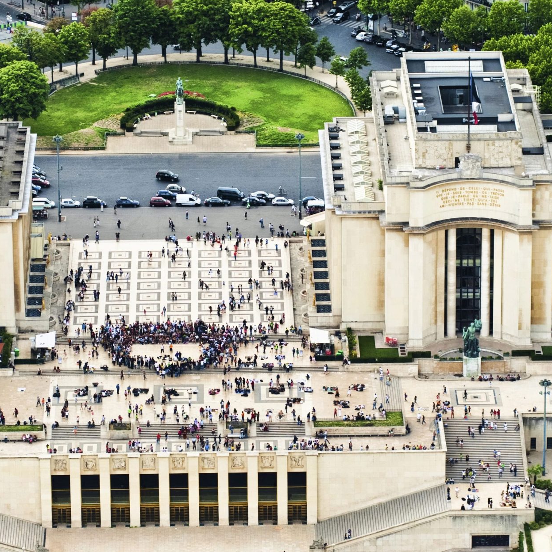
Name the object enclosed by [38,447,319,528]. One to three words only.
building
